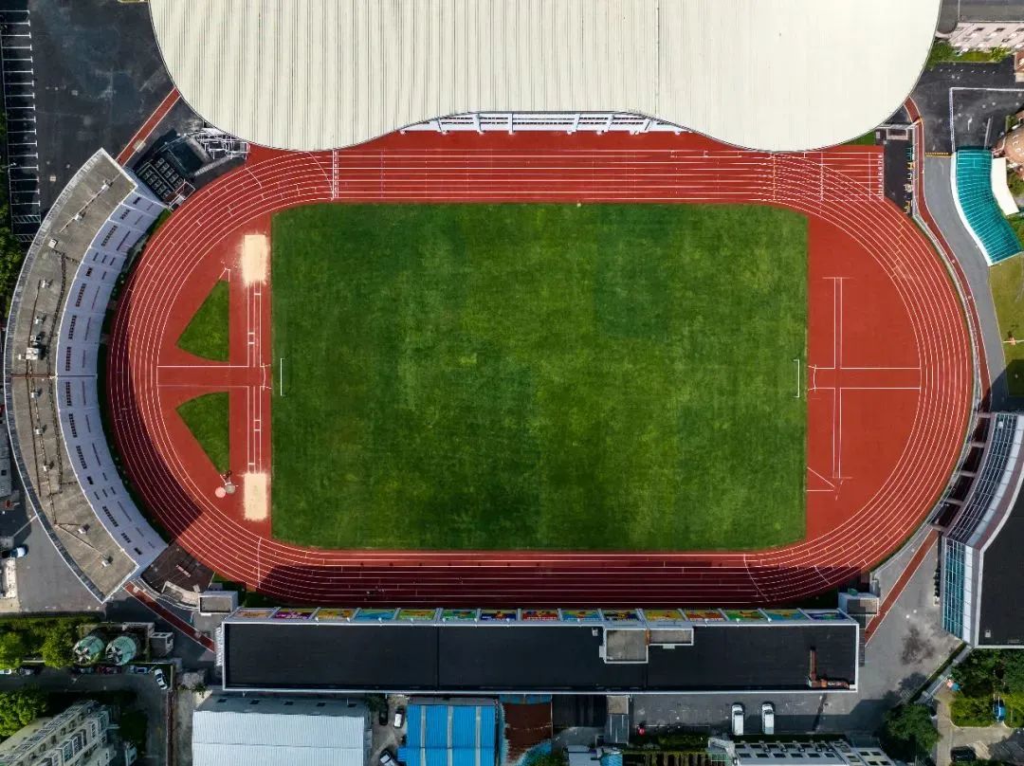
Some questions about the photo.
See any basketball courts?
No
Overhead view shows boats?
No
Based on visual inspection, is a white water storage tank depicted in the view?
No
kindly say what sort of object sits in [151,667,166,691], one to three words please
car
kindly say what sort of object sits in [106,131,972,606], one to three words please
running track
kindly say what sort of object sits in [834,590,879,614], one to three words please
shed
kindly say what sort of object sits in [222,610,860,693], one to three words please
building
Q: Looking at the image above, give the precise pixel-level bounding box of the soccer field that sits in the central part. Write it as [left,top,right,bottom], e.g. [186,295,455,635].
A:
[271,202,808,552]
